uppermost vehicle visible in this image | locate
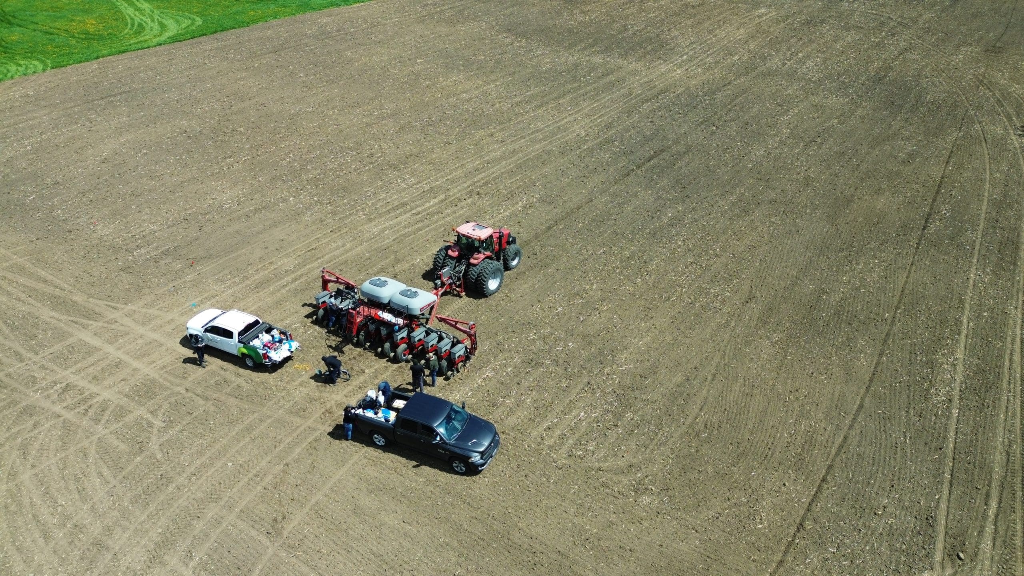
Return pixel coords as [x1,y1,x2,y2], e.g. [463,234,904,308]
[433,218,525,297]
